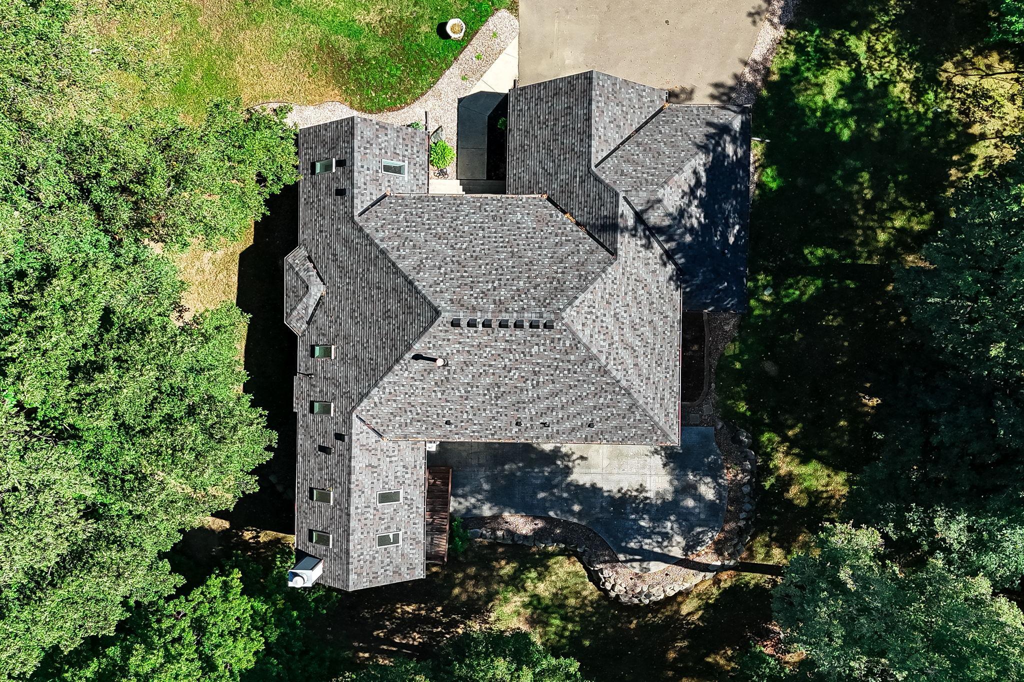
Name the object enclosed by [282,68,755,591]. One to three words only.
house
